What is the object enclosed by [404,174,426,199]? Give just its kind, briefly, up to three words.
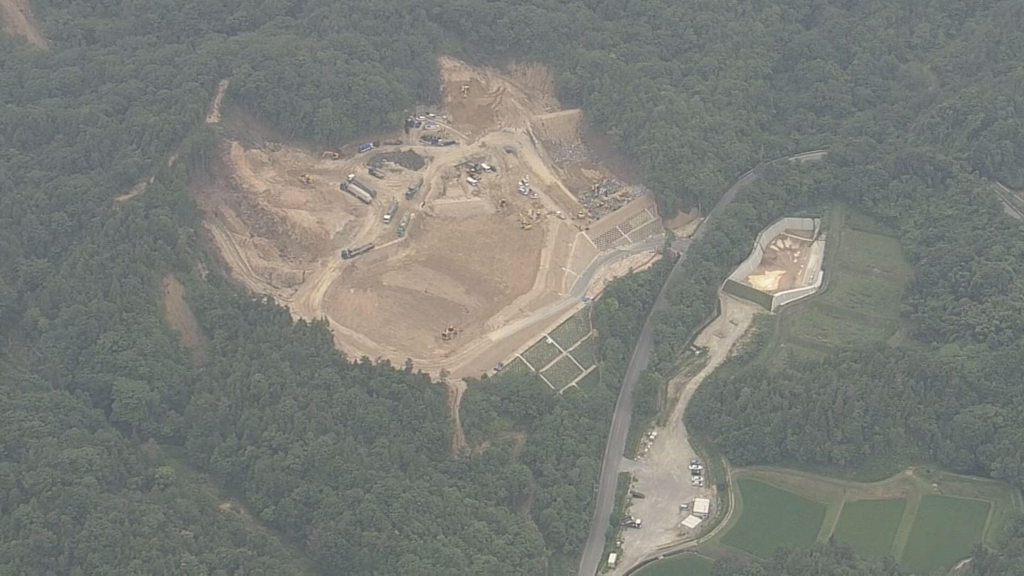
truck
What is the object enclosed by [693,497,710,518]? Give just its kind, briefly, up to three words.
building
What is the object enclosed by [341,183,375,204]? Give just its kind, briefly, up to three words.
truck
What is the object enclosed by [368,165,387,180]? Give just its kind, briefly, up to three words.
vehicle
